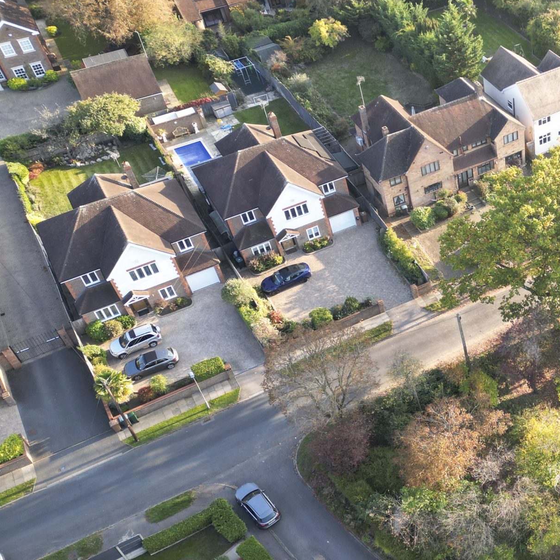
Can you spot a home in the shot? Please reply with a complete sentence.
Yes, looking at the shot, I can spot a home.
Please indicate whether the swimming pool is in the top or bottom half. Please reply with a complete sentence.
The swimming pool sits in the top half of the picture.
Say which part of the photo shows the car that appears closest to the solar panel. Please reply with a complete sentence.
The car that appears closest to the solar panel sits in the center section of the image.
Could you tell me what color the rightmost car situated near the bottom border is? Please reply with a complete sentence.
The rightmost car situated near the bottom border looks blue in the image.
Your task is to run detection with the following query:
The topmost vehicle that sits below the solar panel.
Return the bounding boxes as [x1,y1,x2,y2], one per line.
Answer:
[258,260,314,297]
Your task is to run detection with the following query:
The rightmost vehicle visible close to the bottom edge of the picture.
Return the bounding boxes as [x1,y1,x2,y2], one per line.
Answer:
[236,481,279,536]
